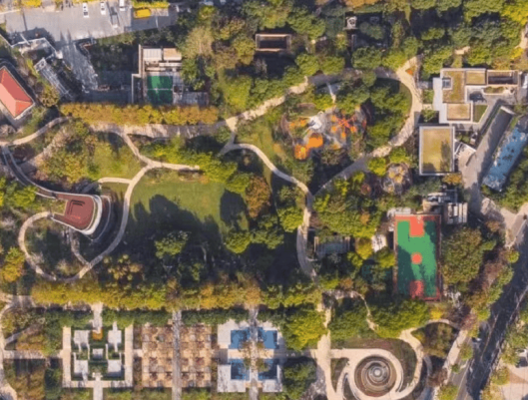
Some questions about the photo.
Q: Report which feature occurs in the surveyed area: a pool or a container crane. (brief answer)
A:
pool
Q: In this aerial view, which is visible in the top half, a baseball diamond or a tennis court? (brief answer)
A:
tennis court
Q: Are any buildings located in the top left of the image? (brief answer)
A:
Yes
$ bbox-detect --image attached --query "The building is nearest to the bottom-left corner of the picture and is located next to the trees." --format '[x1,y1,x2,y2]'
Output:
[51,192,110,240]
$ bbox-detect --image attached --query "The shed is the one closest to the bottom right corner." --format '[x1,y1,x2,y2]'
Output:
[445,203,468,224]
